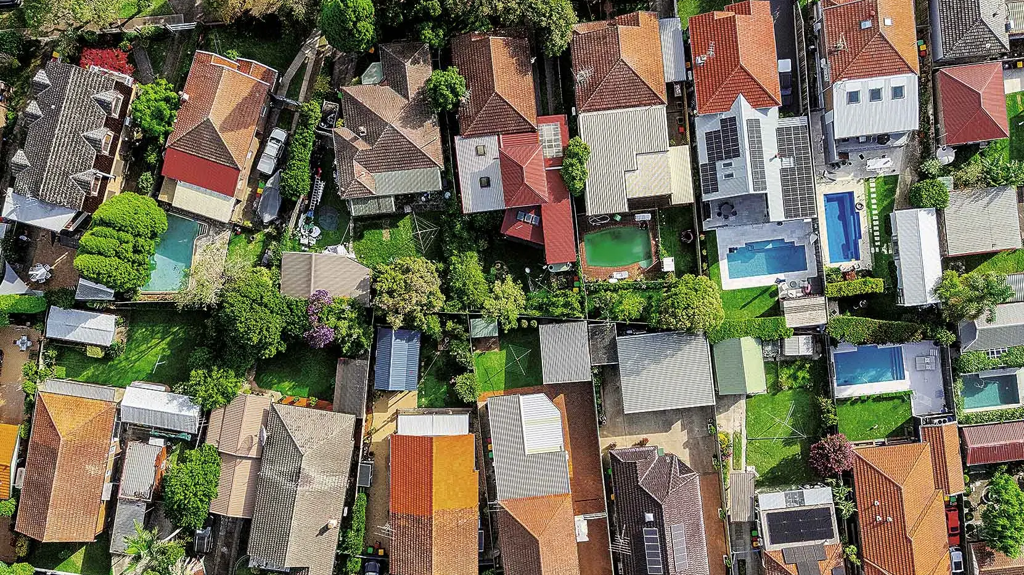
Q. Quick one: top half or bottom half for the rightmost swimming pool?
bottom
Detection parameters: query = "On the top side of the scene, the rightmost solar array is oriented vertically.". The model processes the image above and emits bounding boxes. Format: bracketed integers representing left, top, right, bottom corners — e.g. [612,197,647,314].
[781,125,816,218]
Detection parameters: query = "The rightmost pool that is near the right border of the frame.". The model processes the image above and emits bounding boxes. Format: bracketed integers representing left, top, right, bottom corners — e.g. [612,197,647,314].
[961,371,1023,412]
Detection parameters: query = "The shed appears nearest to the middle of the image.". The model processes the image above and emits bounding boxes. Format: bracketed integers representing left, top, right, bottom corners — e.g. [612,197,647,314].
[470,318,499,339]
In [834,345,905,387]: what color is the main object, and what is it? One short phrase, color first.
blue swimming pool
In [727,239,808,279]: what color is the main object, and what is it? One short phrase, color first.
blue swimming pool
